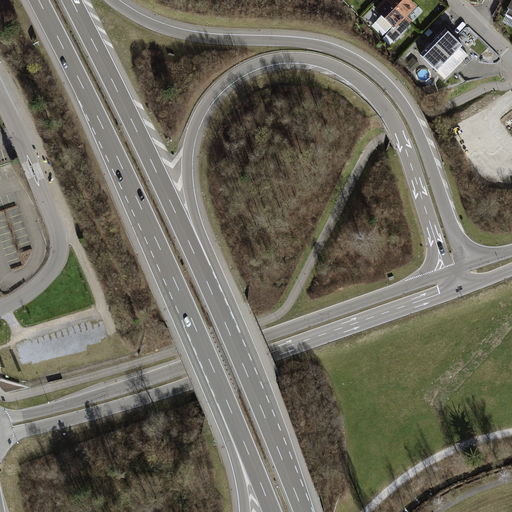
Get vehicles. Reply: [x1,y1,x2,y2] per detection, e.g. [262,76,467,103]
[454,22,466,33]
[115,171,123,182]
[138,190,145,201]
[452,126,464,142]
[438,243,444,254]
[184,318,191,329]
[60,58,69,70]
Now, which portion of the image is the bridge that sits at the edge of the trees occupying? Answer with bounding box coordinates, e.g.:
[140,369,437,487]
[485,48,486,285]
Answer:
[170,312,278,396]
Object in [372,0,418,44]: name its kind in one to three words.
house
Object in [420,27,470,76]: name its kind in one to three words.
house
